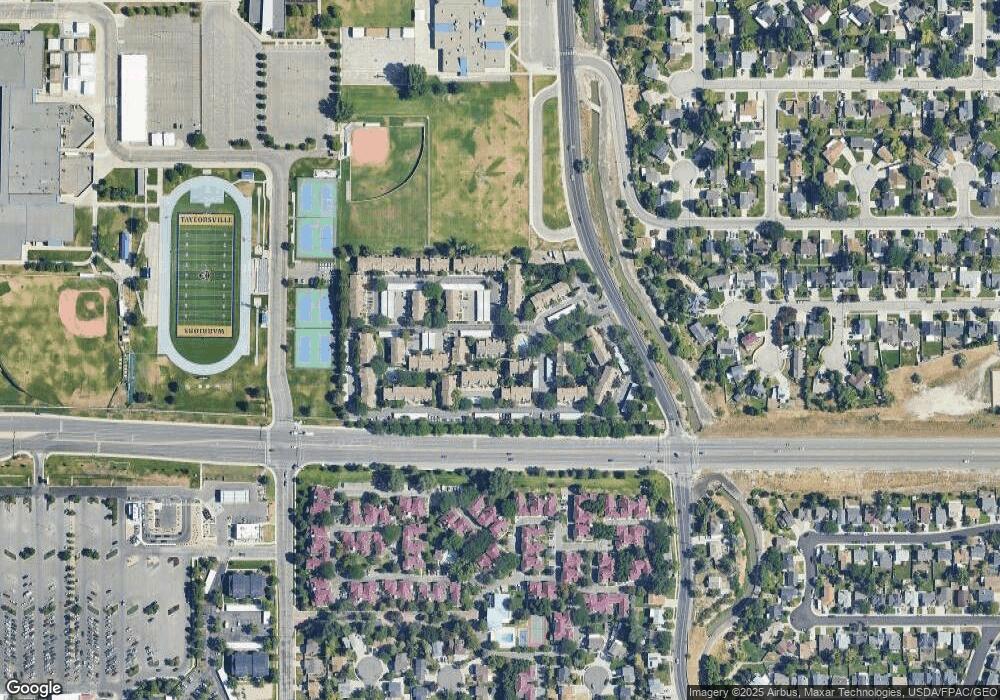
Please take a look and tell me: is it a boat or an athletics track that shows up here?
athletics track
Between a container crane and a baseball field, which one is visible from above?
baseball field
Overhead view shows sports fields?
Yes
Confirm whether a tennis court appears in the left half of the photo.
Yes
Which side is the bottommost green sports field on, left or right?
left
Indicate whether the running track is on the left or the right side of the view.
left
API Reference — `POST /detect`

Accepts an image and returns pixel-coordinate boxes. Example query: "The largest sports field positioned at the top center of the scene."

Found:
[340,77,530,252]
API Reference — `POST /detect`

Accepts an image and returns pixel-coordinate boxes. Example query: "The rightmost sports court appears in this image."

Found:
[527,616,547,647]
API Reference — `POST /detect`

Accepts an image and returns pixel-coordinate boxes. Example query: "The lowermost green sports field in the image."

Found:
[171,191,240,364]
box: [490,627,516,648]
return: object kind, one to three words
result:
swimming pool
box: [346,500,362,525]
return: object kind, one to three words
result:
house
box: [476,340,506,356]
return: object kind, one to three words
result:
building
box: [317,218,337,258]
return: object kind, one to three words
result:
tennis court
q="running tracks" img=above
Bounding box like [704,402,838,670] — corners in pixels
[158,177,251,375]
